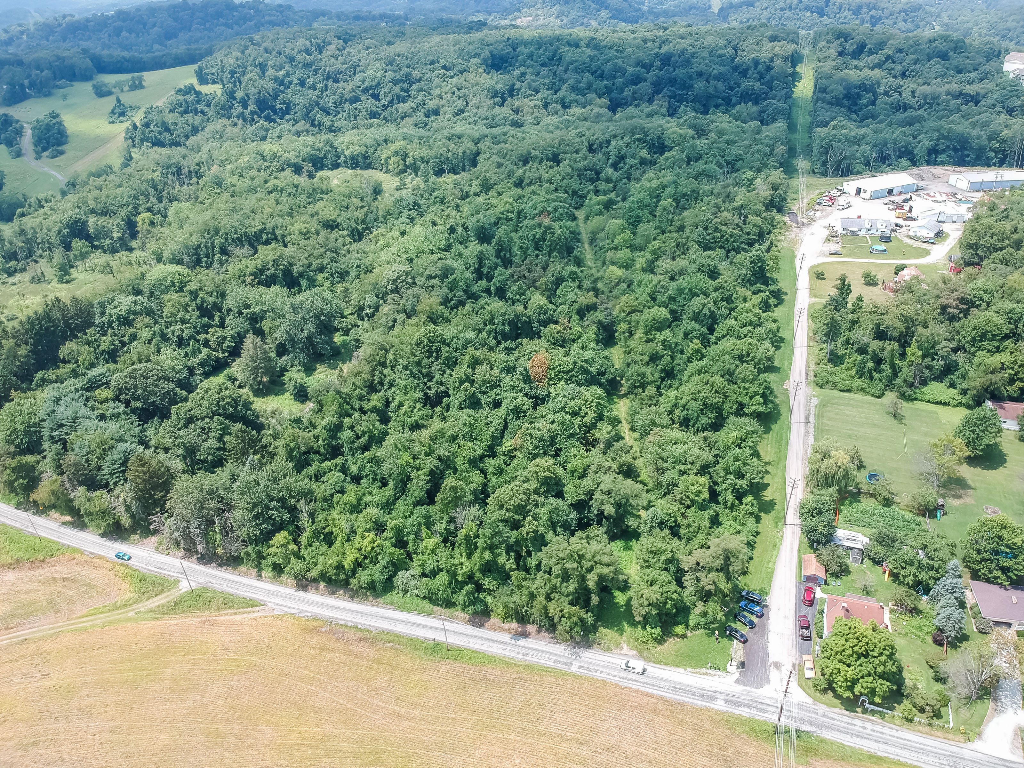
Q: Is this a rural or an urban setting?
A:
rural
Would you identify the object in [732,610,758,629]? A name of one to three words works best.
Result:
car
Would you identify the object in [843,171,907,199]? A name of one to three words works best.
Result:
building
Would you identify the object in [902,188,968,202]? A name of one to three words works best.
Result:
shed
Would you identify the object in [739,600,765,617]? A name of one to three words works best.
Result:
car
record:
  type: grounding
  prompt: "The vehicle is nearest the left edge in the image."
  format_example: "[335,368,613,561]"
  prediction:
[111,549,134,562]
